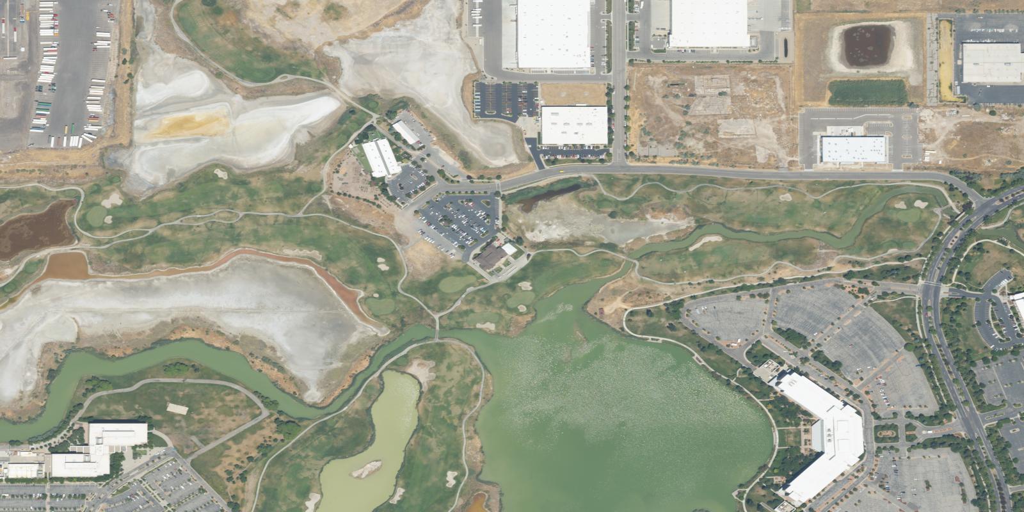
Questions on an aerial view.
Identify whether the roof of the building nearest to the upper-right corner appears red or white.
white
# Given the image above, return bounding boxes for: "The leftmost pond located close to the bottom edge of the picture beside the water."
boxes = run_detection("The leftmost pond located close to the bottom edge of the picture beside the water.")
[319,369,420,512]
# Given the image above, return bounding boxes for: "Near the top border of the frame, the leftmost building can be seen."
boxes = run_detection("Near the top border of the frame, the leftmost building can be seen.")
[518,0,590,68]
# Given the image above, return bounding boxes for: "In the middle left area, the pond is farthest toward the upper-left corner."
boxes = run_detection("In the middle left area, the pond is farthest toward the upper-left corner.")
[0,200,77,261]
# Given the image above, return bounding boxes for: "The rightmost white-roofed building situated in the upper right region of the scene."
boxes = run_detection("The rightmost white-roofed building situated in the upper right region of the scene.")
[963,43,1024,82]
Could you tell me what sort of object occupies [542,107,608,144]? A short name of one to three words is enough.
building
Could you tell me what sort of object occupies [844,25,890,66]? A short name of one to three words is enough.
pond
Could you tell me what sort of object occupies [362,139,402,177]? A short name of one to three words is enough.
building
